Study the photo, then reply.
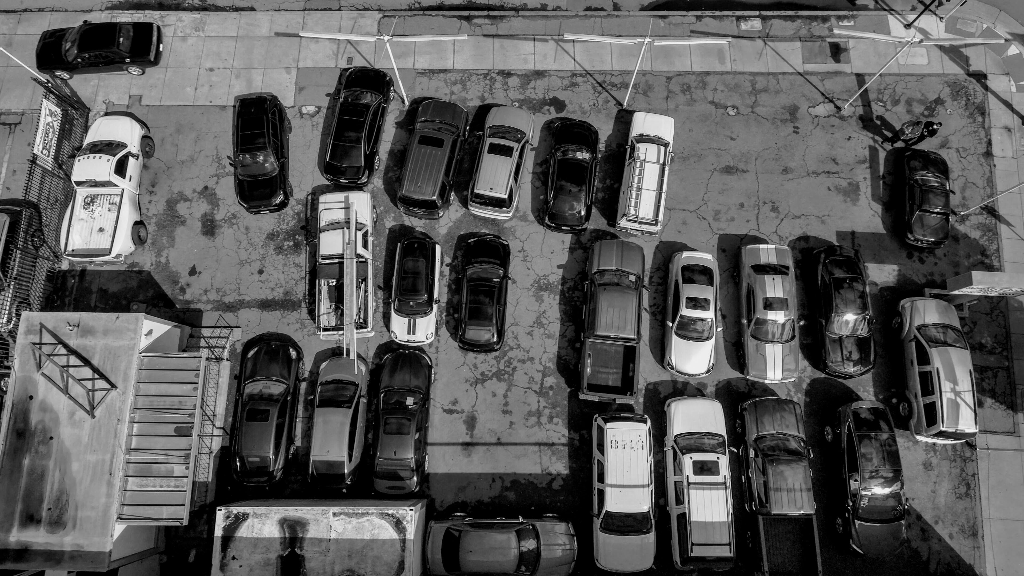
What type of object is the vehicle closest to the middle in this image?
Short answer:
automobile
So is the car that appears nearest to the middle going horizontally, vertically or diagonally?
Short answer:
vertically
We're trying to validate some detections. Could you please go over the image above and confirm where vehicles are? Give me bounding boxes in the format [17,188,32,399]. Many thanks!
[740,398,817,576]
[466,102,533,221]
[396,93,470,223]
[311,189,371,340]
[592,415,659,573]
[31,15,165,80]
[453,233,515,353]
[426,516,576,576]
[320,64,393,187]
[579,235,651,404]
[893,296,983,444]
[894,148,965,249]
[59,110,158,266]
[830,400,912,558]
[303,355,369,486]
[542,117,603,235]
[805,245,884,378]
[662,396,735,568]
[383,236,443,345]
[615,107,681,241]
[227,89,293,213]
[228,341,305,485]
[732,243,805,382]
[660,248,726,377]
[368,352,433,494]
